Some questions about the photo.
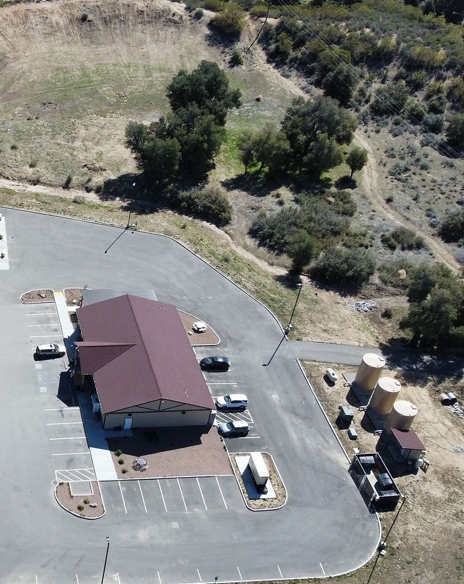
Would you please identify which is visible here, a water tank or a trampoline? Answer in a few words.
water tank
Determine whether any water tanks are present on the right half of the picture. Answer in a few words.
Yes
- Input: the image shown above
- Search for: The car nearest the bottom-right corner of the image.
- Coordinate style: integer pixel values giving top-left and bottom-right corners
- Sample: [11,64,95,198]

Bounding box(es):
[219,418,253,434]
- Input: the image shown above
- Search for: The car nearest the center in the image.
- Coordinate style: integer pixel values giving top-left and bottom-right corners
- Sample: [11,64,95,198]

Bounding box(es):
[198,353,231,368]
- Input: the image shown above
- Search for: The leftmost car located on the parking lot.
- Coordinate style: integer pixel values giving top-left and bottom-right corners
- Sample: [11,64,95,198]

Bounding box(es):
[36,341,67,355]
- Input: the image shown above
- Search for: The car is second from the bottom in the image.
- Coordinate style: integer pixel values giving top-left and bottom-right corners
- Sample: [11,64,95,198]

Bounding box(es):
[214,391,249,407]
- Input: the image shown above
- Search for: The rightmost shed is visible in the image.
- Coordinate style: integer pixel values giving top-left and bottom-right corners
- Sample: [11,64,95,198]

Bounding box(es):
[390,433,424,463]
